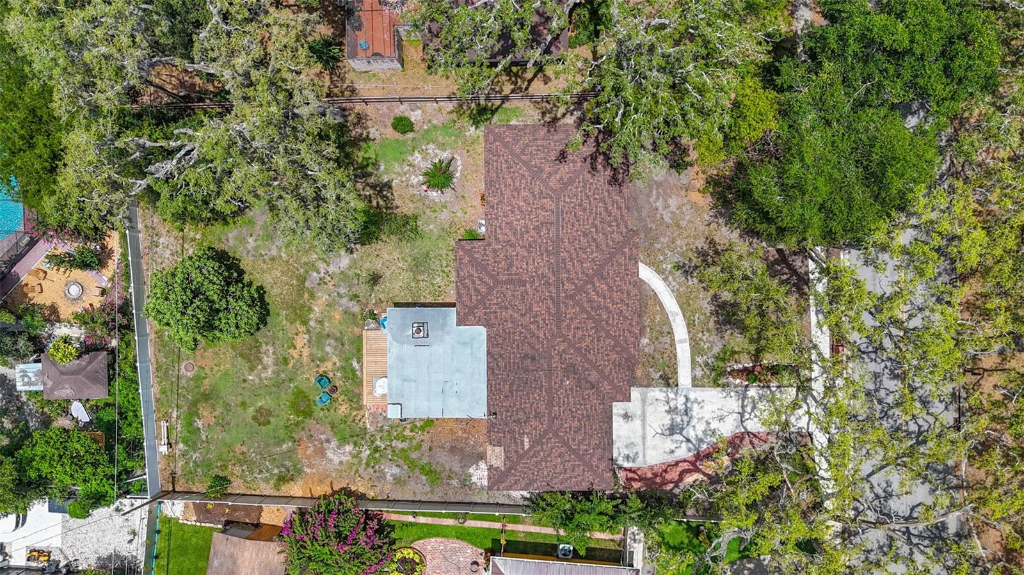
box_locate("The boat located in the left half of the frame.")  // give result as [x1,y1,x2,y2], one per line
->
[73,399,94,426]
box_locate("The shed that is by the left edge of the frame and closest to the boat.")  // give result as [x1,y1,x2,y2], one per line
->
[42,352,120,399]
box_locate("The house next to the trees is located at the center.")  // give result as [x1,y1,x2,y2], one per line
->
[387,124,640,492]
